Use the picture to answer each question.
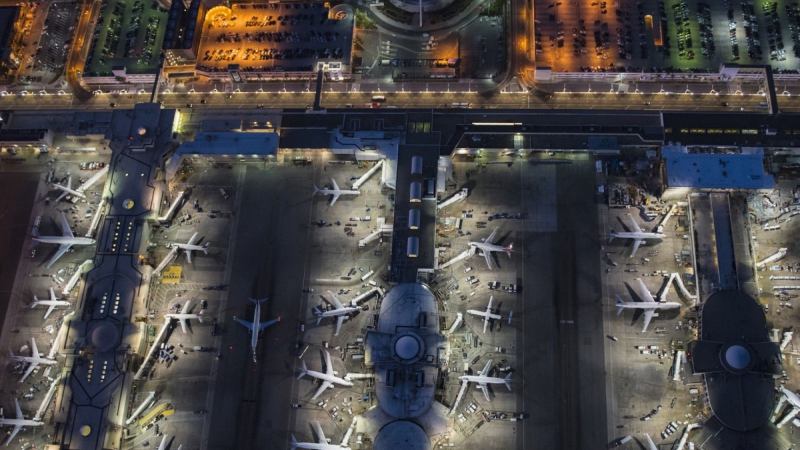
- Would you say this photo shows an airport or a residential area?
airport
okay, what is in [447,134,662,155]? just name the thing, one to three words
building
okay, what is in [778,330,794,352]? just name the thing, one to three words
jet bridge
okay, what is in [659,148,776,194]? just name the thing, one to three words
building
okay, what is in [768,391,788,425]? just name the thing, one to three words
jet bridge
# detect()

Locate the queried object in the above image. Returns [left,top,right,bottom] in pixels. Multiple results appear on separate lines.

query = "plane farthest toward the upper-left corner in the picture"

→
[51,176,86,201]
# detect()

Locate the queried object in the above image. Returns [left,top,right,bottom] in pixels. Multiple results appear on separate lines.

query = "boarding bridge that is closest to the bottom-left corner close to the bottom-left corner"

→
[33,370,67,421]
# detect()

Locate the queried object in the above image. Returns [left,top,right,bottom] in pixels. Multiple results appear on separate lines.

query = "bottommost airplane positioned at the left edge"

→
[0,395,45,447]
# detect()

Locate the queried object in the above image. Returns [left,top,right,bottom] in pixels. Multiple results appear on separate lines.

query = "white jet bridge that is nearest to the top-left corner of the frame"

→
[75,162,109,195]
